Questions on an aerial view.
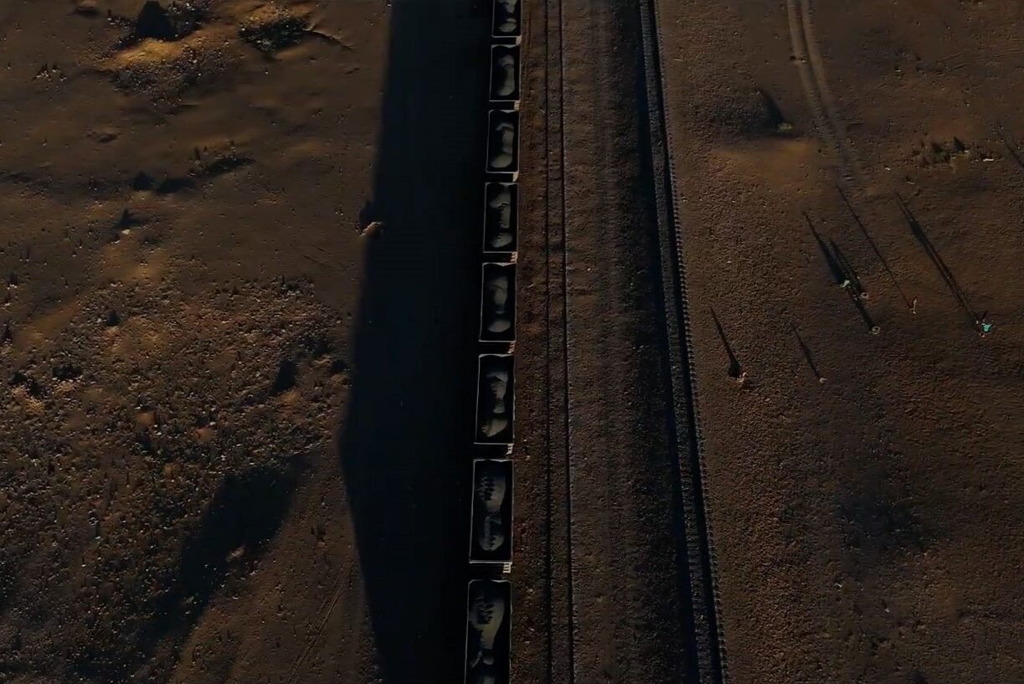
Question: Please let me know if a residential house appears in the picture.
No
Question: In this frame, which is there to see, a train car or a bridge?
train car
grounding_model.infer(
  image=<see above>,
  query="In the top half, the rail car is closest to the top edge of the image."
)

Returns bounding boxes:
[493,0,523,55]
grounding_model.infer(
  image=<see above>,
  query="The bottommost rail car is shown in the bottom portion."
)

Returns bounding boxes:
[464,577,511,684]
